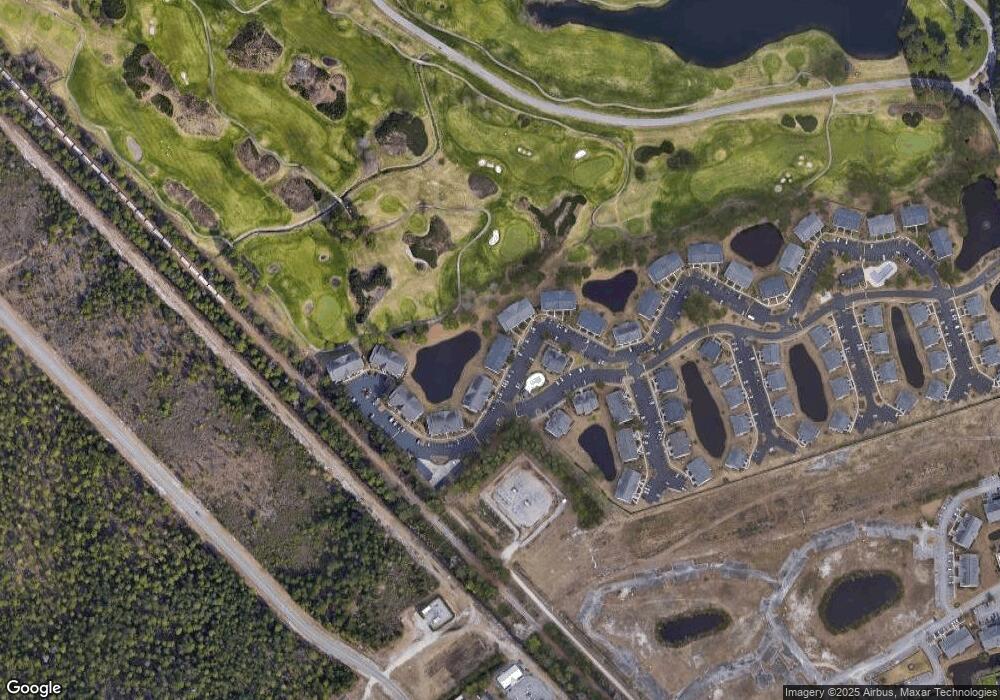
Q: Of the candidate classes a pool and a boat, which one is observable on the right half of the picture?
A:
pool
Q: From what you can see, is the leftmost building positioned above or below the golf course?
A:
below it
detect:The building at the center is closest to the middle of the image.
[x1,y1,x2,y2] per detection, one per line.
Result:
[484,333,519,373]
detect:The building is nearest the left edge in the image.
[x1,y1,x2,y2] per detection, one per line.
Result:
[326,350,365,384]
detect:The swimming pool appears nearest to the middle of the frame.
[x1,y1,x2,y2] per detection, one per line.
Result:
[526,372,545,392]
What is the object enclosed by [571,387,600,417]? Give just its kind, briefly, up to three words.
building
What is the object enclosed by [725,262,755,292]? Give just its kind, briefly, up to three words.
building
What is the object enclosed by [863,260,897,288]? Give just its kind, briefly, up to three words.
swimming pool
